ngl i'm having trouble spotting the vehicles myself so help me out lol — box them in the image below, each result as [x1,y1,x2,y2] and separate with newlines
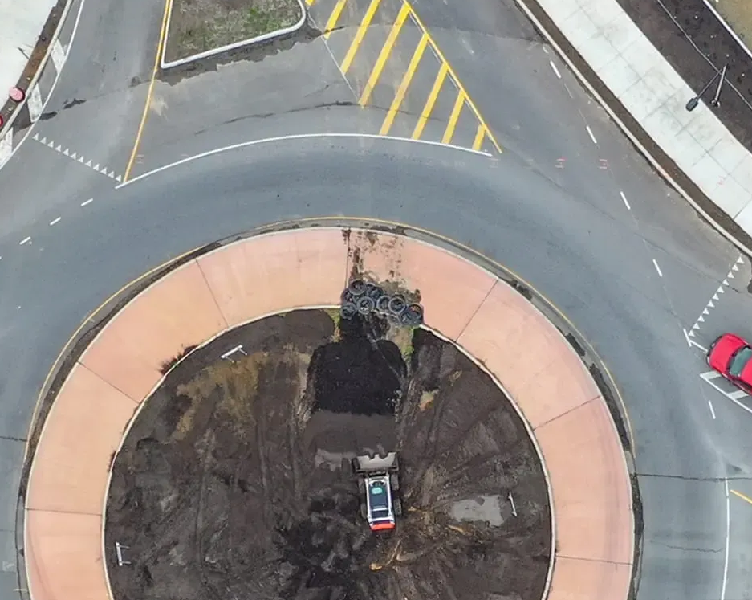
[349,452,400,529]
[706,334,752,396]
